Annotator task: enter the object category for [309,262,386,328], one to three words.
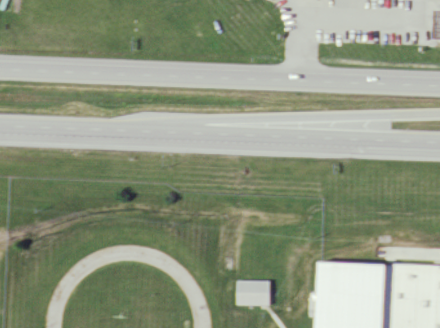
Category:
building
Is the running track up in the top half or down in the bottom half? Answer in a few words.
bottom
